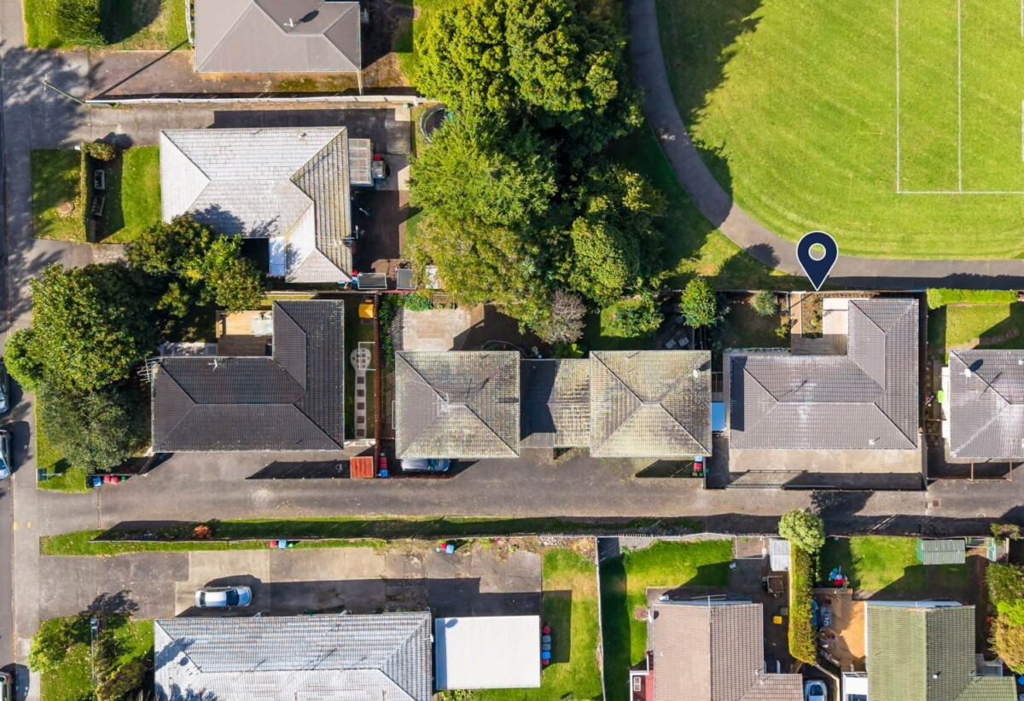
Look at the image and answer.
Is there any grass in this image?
Yes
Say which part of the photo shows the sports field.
top right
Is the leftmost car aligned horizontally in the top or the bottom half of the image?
bottom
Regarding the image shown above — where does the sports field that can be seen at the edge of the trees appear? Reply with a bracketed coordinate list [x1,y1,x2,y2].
[546,0,1024,291]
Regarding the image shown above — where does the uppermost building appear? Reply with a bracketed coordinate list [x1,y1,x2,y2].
[193,0,364,74]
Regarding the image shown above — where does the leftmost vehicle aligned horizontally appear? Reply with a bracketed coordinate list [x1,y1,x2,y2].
[191,586,252,613]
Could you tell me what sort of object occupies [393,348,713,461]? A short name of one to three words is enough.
house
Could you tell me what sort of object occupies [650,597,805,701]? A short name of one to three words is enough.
house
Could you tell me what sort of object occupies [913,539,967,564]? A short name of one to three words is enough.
shed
